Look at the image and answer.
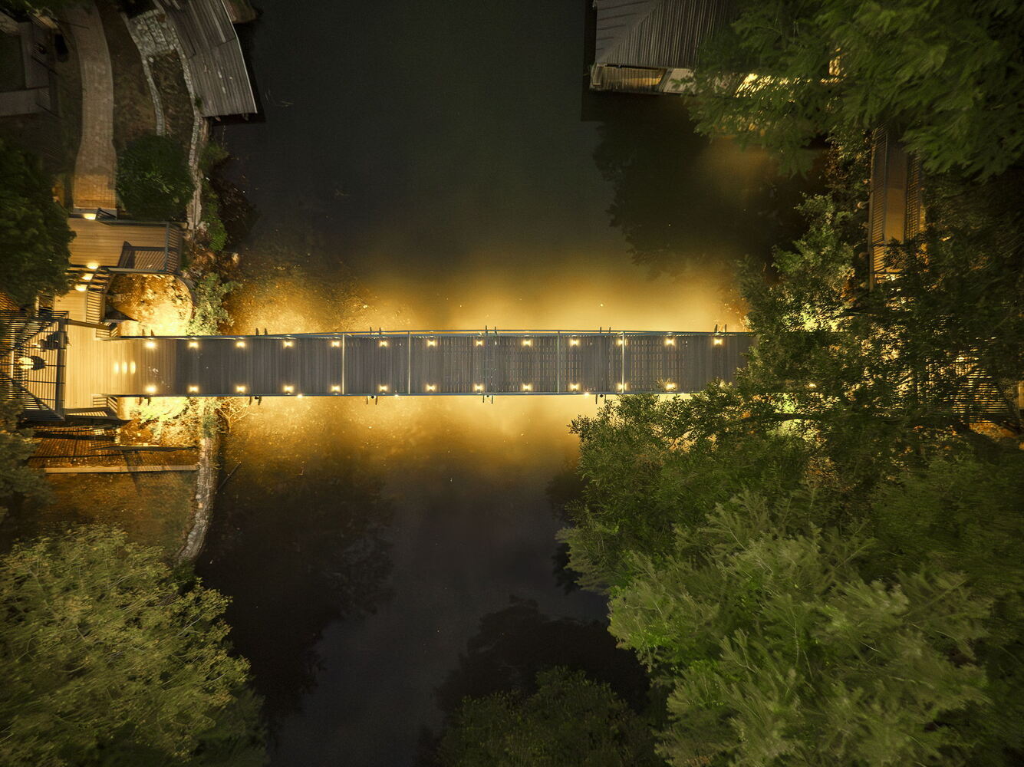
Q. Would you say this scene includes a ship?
No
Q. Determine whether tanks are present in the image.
No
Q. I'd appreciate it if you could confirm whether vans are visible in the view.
No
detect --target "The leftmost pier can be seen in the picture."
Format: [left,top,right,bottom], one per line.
[160,0,259,124]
